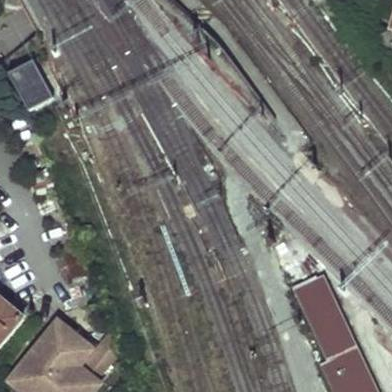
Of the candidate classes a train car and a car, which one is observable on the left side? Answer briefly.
car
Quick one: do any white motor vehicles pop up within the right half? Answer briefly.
No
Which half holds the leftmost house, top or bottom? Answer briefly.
bottom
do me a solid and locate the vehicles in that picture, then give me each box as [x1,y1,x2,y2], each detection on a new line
[2,260,29,280]
[53,282,70,302]
[4,248,24,264]
[0,212,18,230]
[16,284,37,300]
[41,294,52,316]
[0,234,17,249]
[0,186,12,205]
[8,270,36,291]
[41,227,66,242]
